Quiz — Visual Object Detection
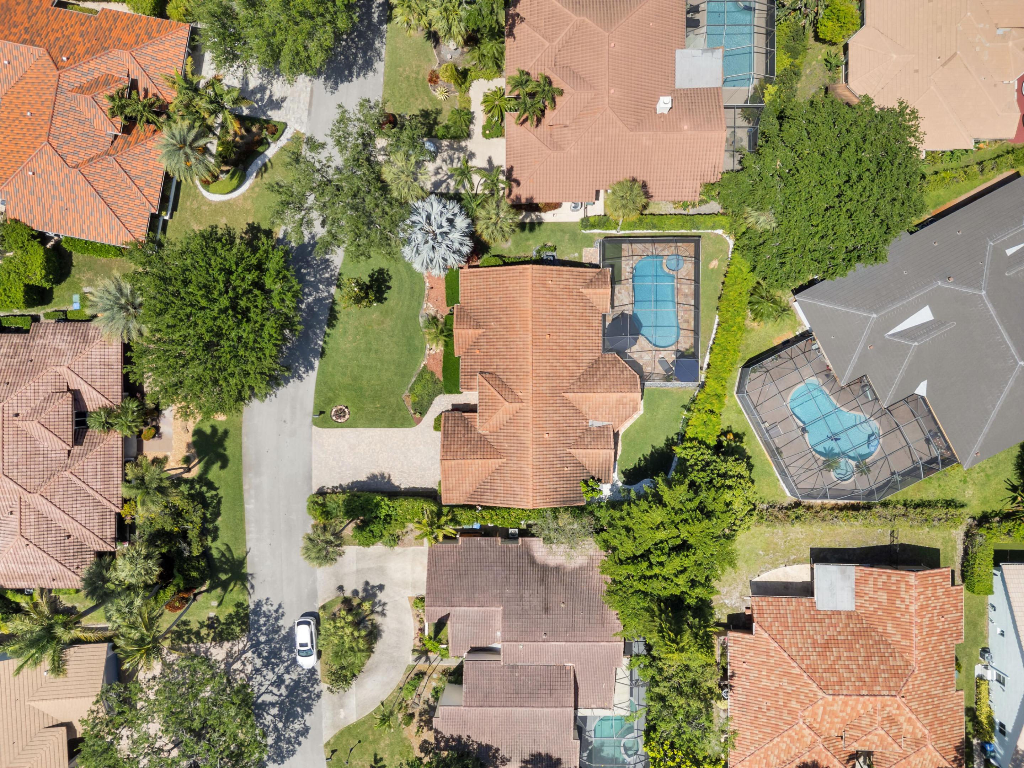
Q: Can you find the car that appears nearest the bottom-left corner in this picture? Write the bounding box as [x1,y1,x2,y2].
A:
[295,615,320,668]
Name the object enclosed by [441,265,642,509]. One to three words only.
house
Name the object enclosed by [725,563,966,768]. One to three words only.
house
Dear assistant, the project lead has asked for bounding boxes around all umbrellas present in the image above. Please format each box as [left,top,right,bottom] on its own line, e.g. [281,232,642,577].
[604,317,640,353]
[673,358,698,383]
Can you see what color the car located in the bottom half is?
white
